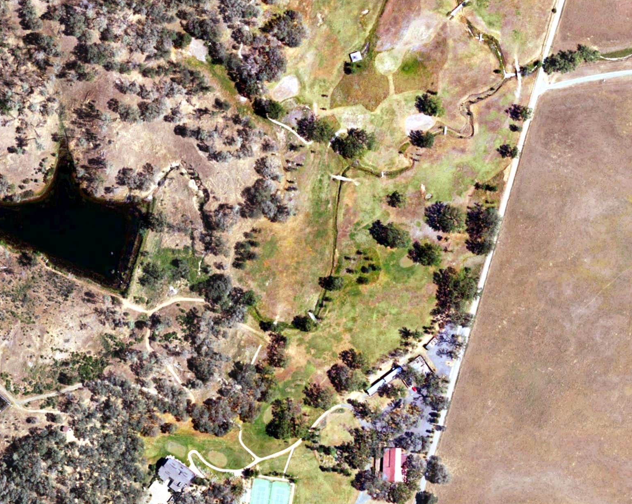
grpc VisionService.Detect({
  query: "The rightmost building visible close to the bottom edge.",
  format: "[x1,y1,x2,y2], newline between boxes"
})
[383,448,408,483]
